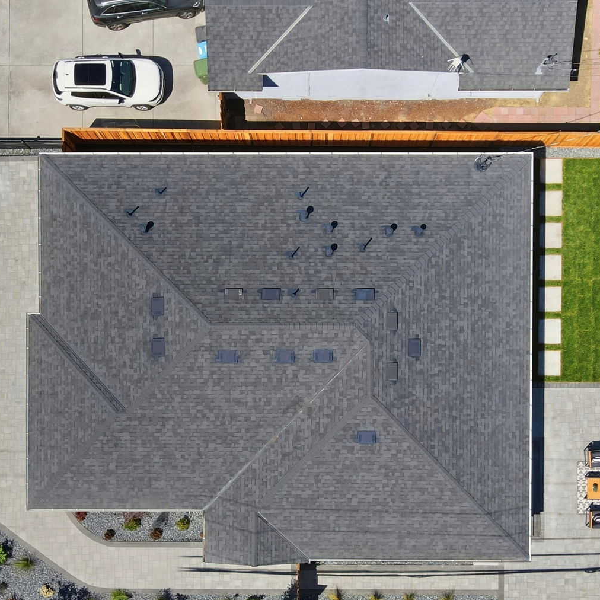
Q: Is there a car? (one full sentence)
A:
Yes, there is a car in the image.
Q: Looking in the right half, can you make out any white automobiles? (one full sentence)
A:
No, there is no white automobile in the right half.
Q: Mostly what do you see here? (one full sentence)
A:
For the most part, this view shows buildings.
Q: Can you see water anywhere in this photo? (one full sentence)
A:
No, no water is visible.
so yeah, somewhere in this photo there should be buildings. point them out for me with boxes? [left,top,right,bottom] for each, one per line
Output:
[25,151,535,567]
[206,0,575,103]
